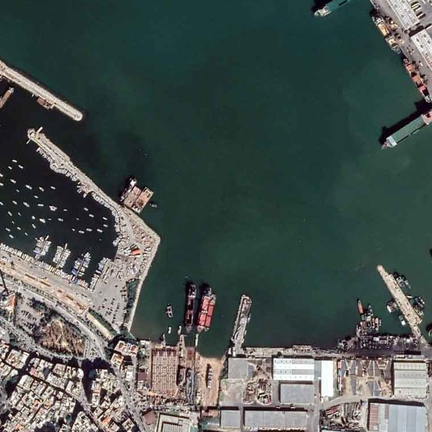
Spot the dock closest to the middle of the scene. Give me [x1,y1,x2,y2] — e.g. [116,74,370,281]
[233,299,250,345]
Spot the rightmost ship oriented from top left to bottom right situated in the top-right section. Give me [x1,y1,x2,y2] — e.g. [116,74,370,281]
[403,57,431,102]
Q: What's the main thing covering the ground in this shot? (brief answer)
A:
water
